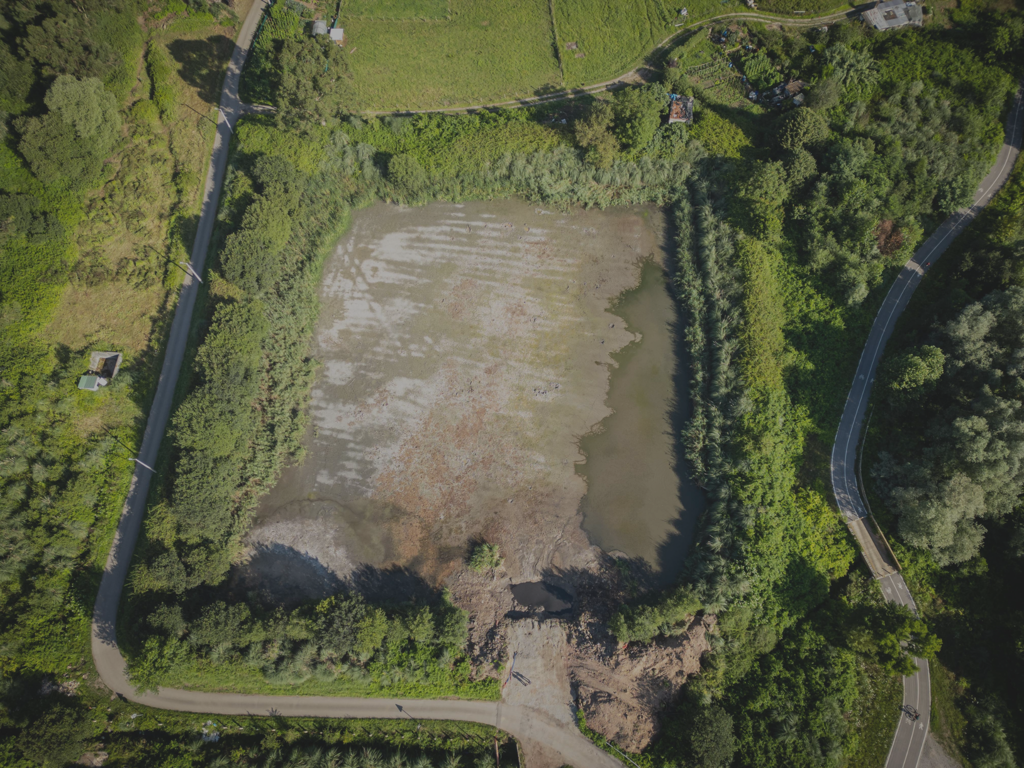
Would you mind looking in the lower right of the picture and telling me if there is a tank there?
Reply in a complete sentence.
No, I see no tank in the lower right of the picture.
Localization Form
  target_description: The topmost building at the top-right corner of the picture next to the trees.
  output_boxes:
[859,0,923,34]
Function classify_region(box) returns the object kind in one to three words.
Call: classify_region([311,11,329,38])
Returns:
greenhouse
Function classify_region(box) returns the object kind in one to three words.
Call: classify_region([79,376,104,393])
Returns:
shed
